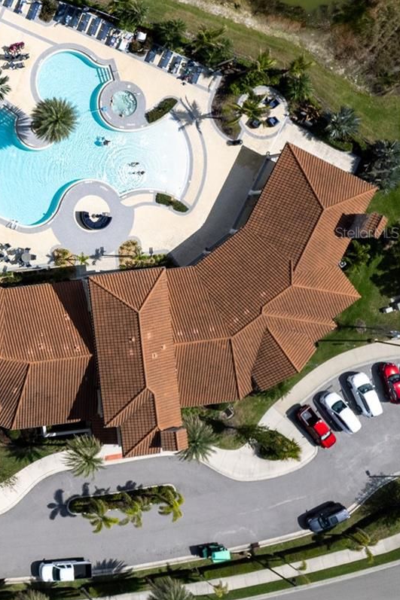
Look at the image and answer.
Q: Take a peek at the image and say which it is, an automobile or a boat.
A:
automobile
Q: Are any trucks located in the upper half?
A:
No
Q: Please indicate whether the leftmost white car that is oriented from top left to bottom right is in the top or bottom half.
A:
bottom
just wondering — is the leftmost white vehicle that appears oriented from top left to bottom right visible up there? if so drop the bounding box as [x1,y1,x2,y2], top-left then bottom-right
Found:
[326,392,364,434]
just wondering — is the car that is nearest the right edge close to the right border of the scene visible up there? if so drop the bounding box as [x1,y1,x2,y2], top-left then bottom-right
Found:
[382,360,400,404]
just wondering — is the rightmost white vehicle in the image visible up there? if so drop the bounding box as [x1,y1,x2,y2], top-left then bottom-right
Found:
[351,374,386,418]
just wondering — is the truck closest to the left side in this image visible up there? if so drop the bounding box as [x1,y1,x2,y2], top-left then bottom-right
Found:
[41,561,94,586]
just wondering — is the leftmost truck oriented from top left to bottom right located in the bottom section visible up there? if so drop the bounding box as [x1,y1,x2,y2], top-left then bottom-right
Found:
[299,404,341,449]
